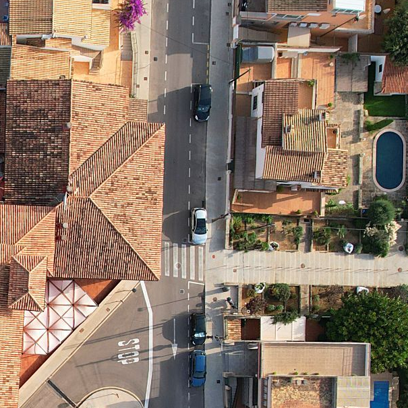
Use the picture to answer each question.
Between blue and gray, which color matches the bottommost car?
blue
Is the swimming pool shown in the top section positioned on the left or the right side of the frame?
right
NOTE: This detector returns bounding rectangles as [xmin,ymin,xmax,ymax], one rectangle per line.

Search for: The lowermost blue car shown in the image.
[187,350,209,388]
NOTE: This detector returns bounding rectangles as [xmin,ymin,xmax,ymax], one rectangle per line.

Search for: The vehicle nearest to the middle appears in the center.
[189,206,210,244]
